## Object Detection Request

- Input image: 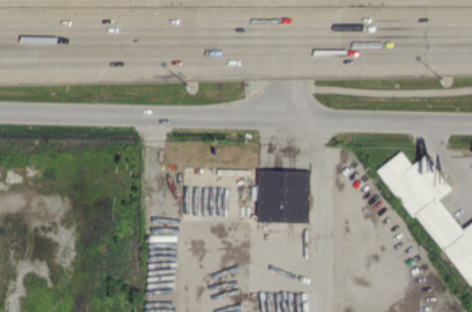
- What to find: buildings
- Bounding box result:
[377,152,472,286]
[258,170,309,222]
